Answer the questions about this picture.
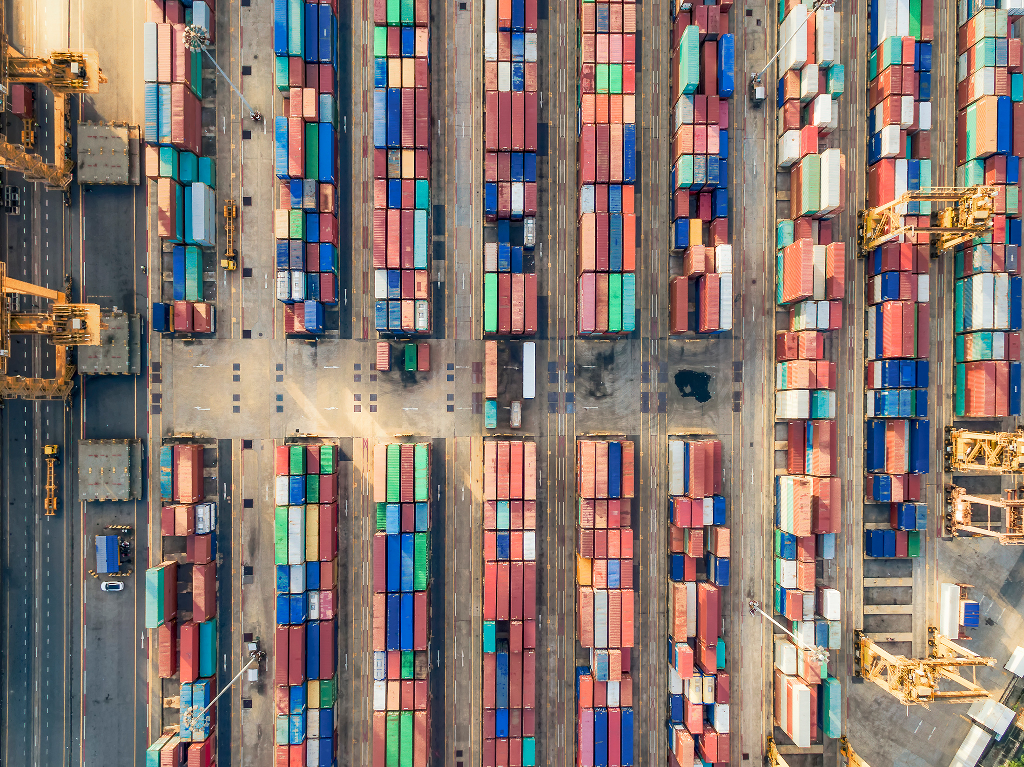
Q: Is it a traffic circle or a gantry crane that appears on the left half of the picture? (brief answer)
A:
gantry crane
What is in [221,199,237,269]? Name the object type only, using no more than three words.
vehicle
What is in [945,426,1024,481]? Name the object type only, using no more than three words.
container crane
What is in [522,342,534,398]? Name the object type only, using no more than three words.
vehicle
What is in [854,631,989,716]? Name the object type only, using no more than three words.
container crane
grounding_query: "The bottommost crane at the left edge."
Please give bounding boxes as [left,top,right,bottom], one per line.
[0,269,109,405]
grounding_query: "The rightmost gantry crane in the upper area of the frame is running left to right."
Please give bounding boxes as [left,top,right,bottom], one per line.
[857,194,993,258]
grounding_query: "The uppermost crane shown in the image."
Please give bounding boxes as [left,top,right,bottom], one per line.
[0,30,109,203]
